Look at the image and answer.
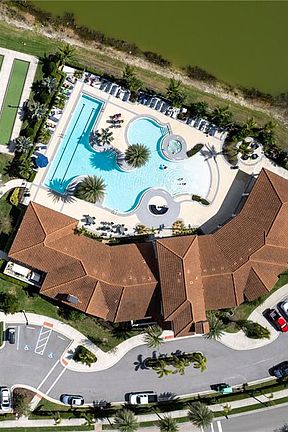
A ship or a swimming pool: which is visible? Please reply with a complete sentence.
This aerial view contains a swimming pool.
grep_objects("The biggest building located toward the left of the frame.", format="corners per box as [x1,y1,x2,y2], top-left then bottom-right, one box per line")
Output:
[8,201,158,331]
